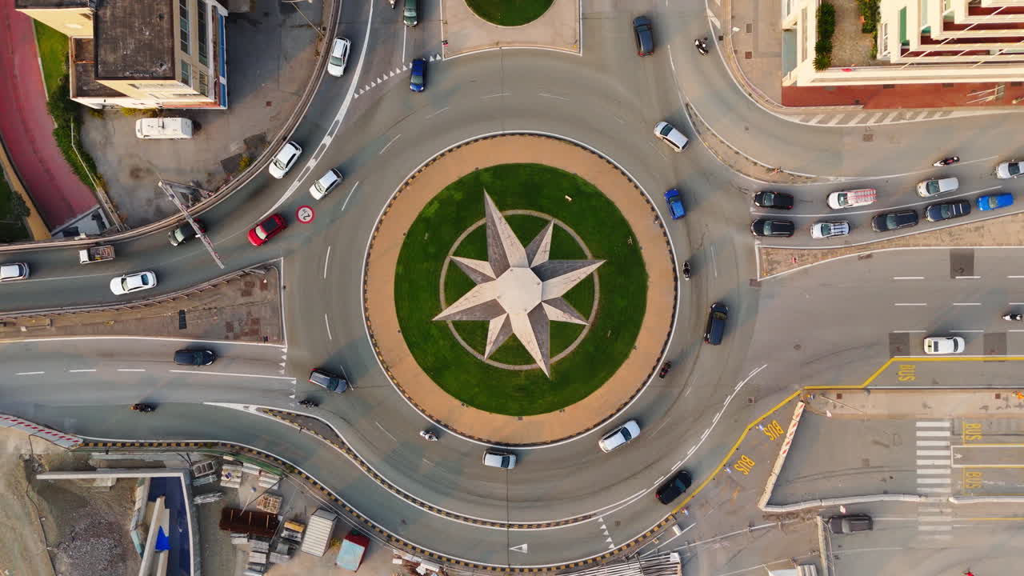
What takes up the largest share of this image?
paved ground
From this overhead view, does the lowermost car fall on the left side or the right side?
right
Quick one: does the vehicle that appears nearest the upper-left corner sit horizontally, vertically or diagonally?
horizontally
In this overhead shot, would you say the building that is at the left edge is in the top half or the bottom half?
top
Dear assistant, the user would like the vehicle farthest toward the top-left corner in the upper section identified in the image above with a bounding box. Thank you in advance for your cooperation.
[137,115,196,140]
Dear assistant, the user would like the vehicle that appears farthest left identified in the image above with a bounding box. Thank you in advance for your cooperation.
[0,262,33,282]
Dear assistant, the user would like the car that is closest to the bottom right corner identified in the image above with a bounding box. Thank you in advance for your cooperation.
[826,513,873,535]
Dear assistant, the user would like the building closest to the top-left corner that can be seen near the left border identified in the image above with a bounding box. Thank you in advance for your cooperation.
[15,0,232,111]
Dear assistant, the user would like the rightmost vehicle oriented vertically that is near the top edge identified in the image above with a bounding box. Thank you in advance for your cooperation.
[632,16,653,59]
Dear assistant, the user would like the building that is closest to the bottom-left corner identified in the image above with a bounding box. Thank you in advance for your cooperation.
[301,507,339,557]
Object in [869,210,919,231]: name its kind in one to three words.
car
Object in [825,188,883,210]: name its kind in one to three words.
vehicle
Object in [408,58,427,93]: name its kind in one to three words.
car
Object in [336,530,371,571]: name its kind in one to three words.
building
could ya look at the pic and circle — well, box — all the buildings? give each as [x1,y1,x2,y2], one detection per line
[15,0,232,111]
[781,0,1024,91]
[301,507,339,557]
[765,561,799,576]
[336,530,371,571]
